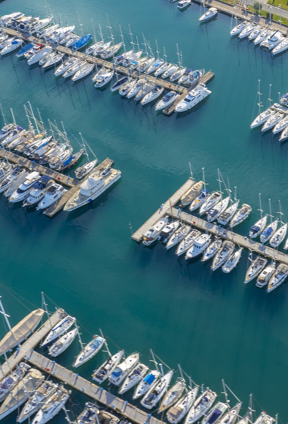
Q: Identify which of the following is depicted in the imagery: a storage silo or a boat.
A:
boat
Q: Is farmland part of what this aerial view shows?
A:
No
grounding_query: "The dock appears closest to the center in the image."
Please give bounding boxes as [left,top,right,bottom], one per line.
[129,180,196,241]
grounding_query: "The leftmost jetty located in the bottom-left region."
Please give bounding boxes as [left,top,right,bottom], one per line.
[0,309,66,379]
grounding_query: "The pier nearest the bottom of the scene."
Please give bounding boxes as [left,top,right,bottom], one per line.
[19,348,173,424]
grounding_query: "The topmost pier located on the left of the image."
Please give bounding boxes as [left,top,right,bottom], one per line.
[1,26,188,92]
